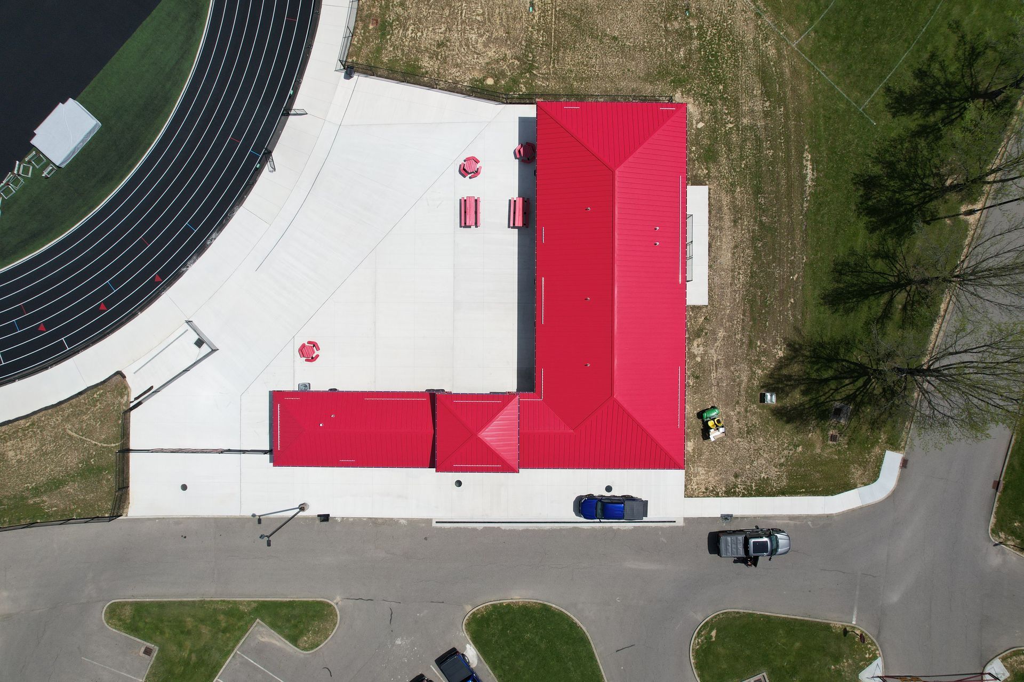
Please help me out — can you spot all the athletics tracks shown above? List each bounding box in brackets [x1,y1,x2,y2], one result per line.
[0,0,315,379]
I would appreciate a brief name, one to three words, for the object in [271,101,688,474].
building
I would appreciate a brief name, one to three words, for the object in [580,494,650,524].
truck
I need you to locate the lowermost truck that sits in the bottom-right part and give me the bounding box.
[713,528,787,567]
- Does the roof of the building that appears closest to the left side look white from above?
No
